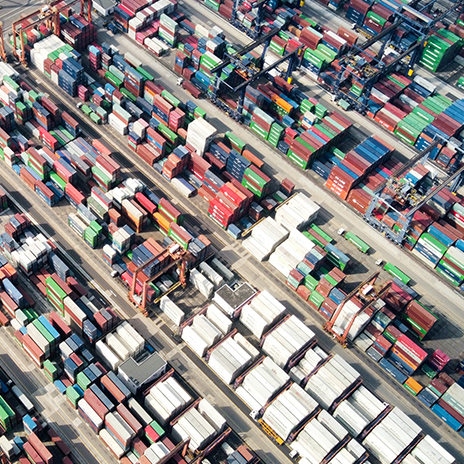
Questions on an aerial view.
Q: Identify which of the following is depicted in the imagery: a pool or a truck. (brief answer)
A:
truck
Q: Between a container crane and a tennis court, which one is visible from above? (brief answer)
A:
container crane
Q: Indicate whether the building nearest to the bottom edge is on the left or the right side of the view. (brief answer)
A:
left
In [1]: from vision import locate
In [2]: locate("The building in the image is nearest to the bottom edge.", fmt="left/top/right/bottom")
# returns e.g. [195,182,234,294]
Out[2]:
[118,352,167,394]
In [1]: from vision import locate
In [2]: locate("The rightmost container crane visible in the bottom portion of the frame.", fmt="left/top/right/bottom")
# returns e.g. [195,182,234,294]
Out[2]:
[325,267,397,342]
